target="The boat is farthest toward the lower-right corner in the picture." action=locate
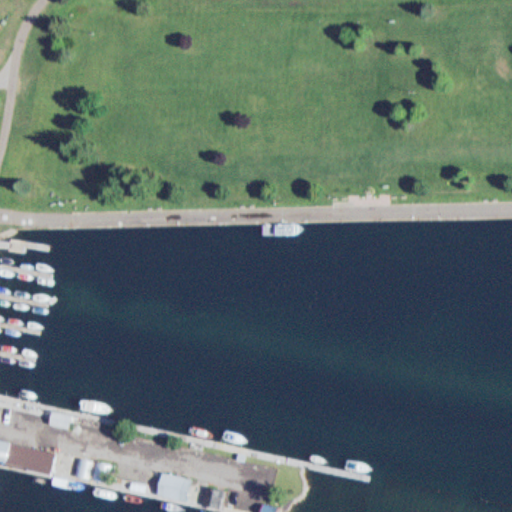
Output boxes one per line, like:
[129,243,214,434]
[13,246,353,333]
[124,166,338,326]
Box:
[344,460,373,474]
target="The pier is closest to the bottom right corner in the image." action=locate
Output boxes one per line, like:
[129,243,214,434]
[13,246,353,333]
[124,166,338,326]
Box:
[304,460,372,483]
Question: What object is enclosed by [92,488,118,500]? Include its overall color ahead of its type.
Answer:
white boat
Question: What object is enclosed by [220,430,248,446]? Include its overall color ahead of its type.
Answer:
white boat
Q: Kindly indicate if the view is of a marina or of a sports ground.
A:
marina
